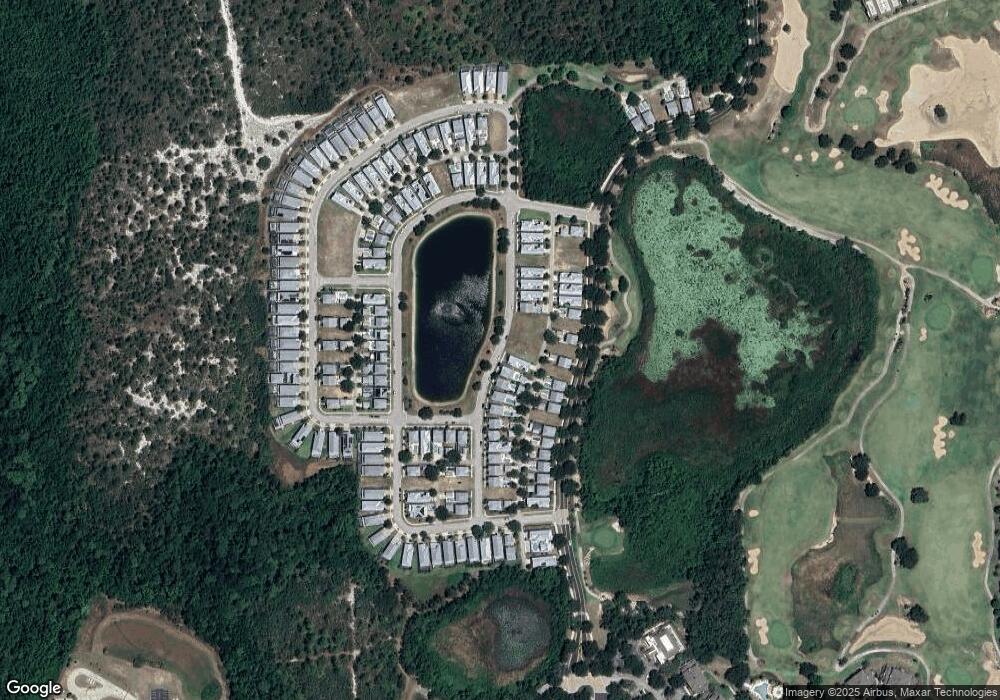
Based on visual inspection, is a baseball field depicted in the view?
No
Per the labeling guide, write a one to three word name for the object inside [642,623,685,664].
building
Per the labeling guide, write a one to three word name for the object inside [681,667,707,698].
building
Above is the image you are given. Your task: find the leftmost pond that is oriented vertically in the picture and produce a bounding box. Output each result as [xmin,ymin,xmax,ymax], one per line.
[415,215,494,402]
